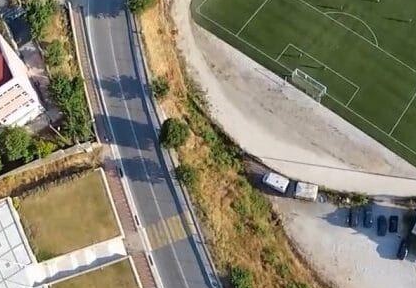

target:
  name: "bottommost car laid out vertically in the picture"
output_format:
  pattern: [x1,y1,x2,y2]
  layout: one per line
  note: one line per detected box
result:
[398,237,411,261]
